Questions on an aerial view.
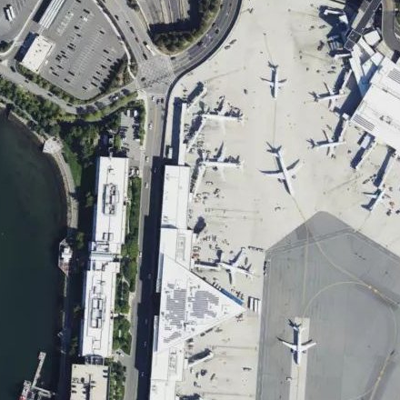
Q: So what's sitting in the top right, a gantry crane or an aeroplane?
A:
aeroplane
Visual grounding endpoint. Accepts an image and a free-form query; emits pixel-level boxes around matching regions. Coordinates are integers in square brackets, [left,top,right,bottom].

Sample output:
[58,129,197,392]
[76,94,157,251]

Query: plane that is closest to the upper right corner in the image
[309,82,348,113]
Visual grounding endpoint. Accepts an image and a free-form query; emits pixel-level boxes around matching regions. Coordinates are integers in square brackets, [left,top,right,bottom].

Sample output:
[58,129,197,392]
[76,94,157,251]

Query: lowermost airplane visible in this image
[282,319,317,366]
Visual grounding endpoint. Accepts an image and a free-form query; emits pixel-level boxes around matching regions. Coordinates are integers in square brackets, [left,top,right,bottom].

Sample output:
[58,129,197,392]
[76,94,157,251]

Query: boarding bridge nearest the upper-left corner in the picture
[186,85,208,110]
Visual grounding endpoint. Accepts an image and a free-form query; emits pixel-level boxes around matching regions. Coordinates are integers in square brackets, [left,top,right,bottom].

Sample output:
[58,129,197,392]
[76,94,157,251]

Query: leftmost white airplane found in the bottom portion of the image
[217,253,258,289]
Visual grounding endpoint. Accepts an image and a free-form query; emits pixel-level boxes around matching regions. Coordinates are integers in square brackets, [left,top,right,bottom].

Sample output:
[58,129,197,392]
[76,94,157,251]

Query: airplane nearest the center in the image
[201,144,247,183]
